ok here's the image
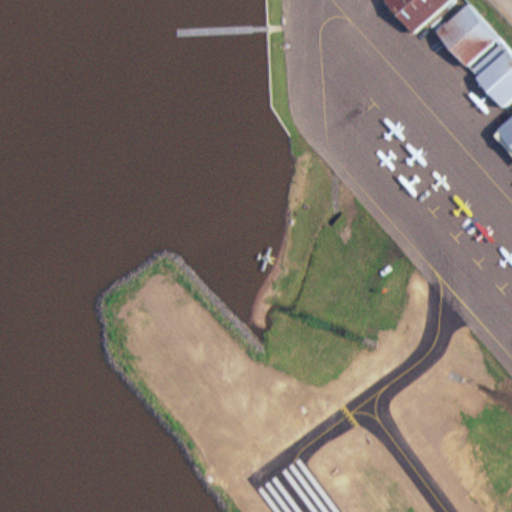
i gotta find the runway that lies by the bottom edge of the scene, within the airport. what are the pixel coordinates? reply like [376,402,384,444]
[258,454,348,512]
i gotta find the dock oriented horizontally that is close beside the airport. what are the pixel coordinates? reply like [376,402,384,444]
[176,24,269,37]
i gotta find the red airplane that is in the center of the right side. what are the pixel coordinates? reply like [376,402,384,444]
[474,223,494,244]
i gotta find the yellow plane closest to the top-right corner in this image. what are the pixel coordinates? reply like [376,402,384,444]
[451,196,473,218]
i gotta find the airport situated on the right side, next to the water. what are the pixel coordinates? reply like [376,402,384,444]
[248,0,512,512]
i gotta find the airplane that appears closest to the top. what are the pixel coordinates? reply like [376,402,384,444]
[469,92,490,114]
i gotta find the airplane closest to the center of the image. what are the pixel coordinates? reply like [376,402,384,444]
[256,248,276,271]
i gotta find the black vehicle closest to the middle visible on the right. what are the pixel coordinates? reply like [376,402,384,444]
[328,212,344,226]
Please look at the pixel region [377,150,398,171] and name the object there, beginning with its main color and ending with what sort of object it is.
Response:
white airplane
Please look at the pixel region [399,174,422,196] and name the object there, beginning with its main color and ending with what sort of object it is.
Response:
white airplane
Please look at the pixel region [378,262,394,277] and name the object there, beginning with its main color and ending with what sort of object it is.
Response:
white vehicle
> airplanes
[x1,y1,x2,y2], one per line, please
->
[474,223,494,244]
[469,92,490,114]
[430,172,450,192]
[404,144,426,168]
[498,247,512,270]
[256,248,276,271]
[399,174,422,196]
[451,196,473,218]
[382,118,404,142]
[377,150,398,171]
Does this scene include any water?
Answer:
Yes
